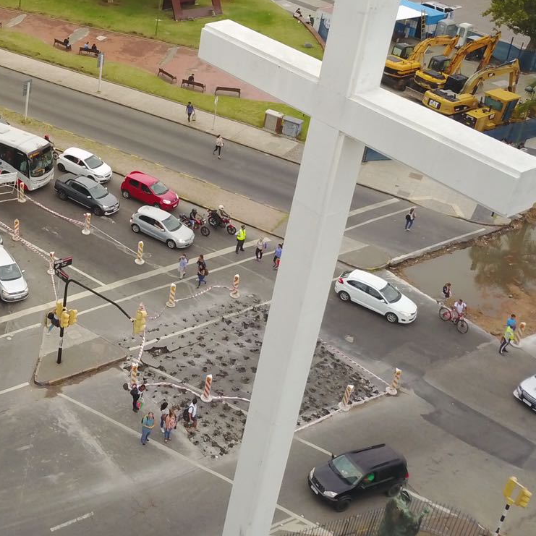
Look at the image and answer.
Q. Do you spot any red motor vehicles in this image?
Yes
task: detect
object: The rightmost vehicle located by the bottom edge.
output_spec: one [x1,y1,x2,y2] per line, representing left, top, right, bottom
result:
[299,442,420,517]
